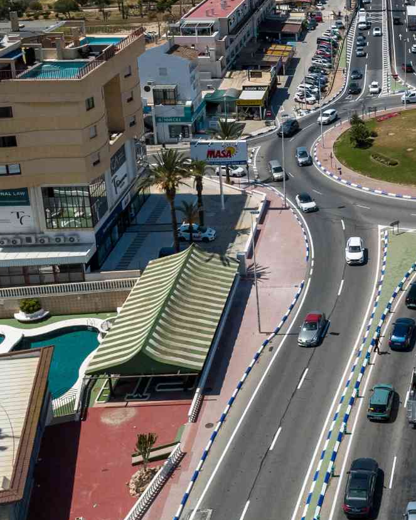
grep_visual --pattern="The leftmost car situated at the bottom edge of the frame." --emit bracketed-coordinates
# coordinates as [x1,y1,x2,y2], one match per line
[345,454,381,508]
